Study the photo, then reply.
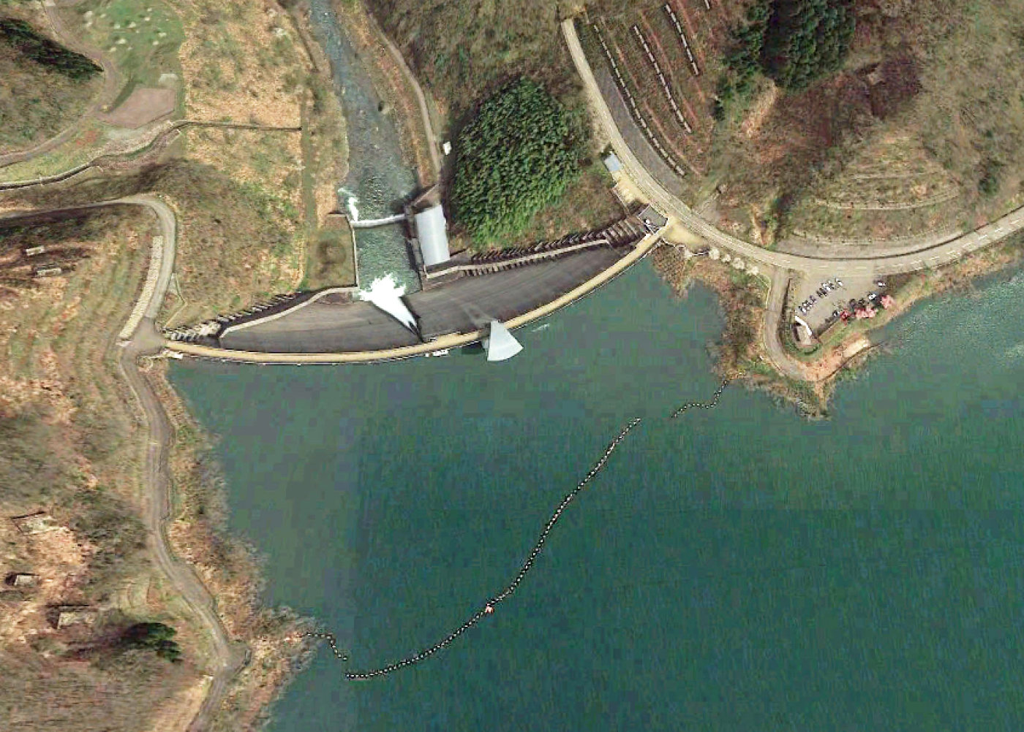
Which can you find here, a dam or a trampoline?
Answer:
dam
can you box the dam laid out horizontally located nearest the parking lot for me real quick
[139,199,709,362]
